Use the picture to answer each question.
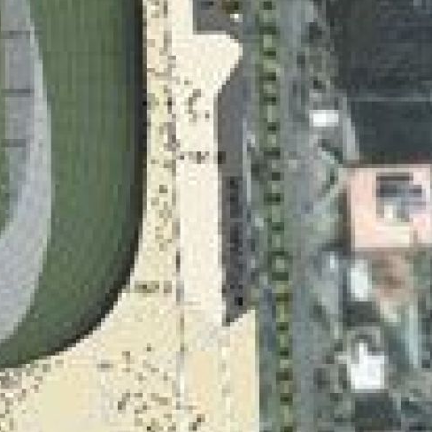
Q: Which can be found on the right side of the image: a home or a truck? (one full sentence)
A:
What appears on the right side of the image is a home.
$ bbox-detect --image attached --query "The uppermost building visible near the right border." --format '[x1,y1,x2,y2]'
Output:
[349,167,432,249]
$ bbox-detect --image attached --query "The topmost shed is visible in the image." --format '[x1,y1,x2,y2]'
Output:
[315,112,341,125]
